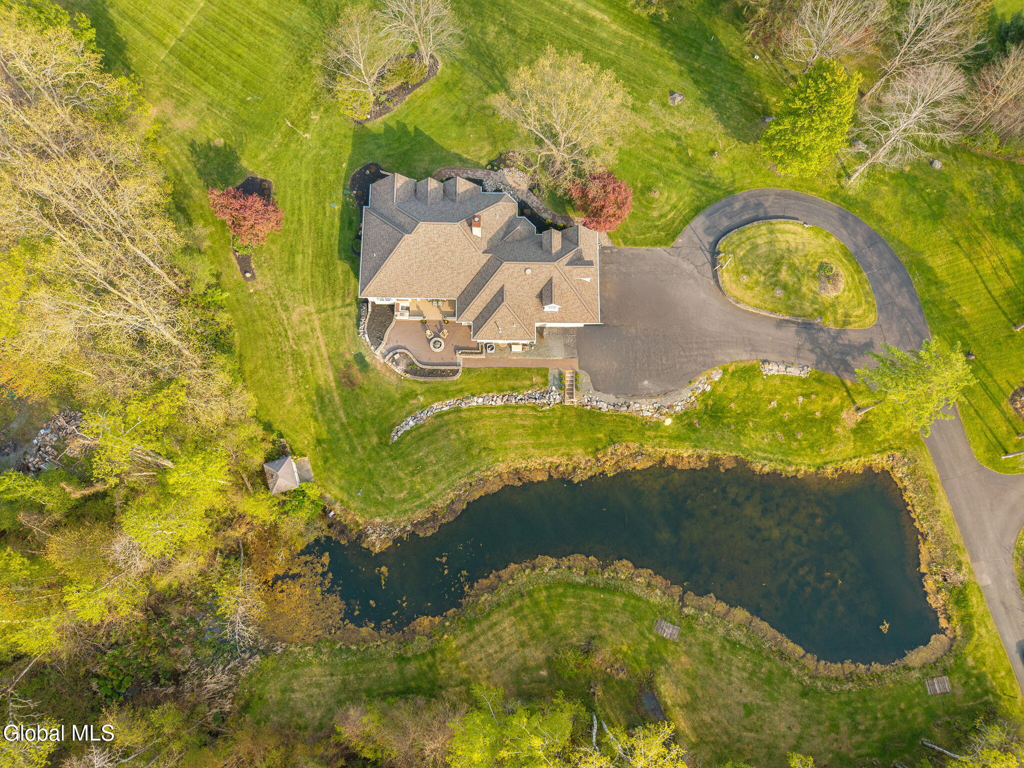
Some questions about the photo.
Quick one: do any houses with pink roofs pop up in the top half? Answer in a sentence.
No, I can find no house with a pink roof in the top half.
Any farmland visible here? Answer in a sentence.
No, the picture contains no farmland.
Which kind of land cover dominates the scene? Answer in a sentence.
The bulk of the photo consists of grass.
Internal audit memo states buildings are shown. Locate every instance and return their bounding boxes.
[267,456,305,496]
[359,173,607,346]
